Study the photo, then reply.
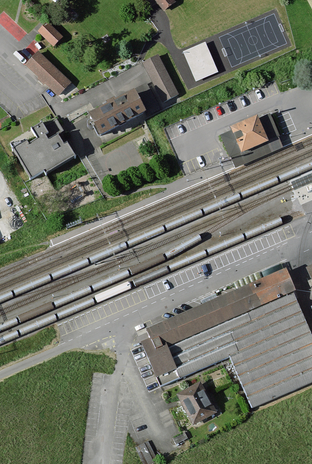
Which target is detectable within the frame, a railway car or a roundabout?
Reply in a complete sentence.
This aerial view contains a railway car.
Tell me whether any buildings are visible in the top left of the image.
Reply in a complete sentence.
Yes, a building shows up in the top left of the image.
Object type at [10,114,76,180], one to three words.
house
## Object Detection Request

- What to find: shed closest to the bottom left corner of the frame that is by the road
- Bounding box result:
[136,441,158,464]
